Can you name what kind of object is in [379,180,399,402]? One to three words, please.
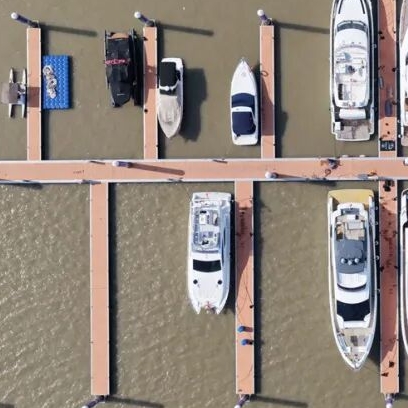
pier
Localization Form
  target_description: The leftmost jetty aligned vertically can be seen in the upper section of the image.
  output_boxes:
[27,18,43,160]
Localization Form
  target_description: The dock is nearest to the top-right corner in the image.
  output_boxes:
[378,0,397,158]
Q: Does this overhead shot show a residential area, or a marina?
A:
marina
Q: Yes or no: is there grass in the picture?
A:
No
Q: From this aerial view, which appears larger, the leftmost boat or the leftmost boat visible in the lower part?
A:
the leftmost boat visible in the lower part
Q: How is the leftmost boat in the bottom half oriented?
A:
from top to bottom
